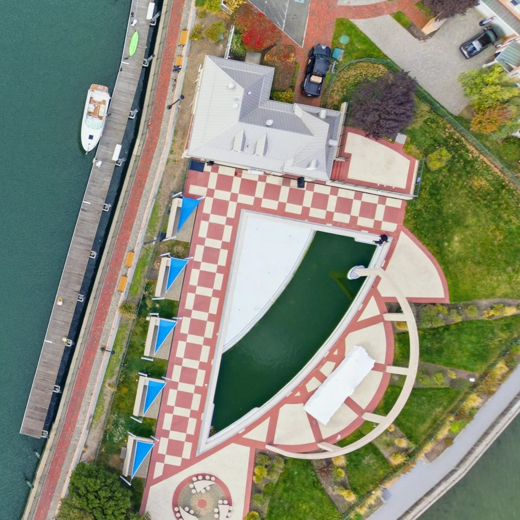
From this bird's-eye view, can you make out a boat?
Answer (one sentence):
Yes, the picture does show a boat.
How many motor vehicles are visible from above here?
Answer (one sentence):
Looking from above, you can make out 2 motor vehicles.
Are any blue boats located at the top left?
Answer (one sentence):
No, no blue boat appears at the top left.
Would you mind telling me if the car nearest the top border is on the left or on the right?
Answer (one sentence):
You can find the car nearest the top border on the right side of the picture.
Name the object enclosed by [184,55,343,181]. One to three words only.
building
